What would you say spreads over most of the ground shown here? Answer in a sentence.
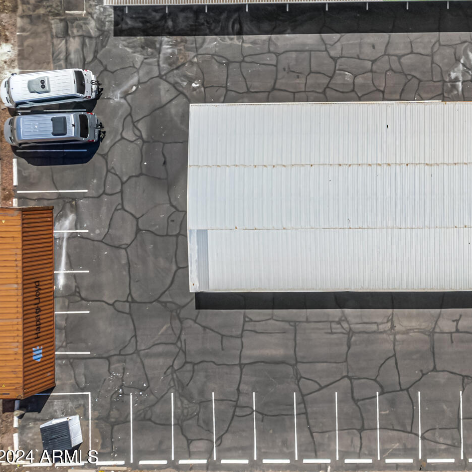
The bulk of the photo consists of paved ground.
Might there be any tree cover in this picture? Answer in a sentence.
No, tree cover can't be seen anywhere here.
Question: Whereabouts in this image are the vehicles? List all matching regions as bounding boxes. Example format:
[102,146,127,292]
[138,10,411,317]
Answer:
[4,110,106,150]
[1,70,103,112]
